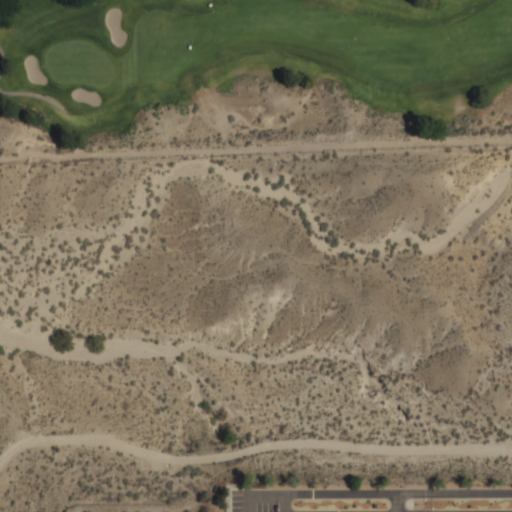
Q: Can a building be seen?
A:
No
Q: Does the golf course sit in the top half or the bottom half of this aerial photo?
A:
top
